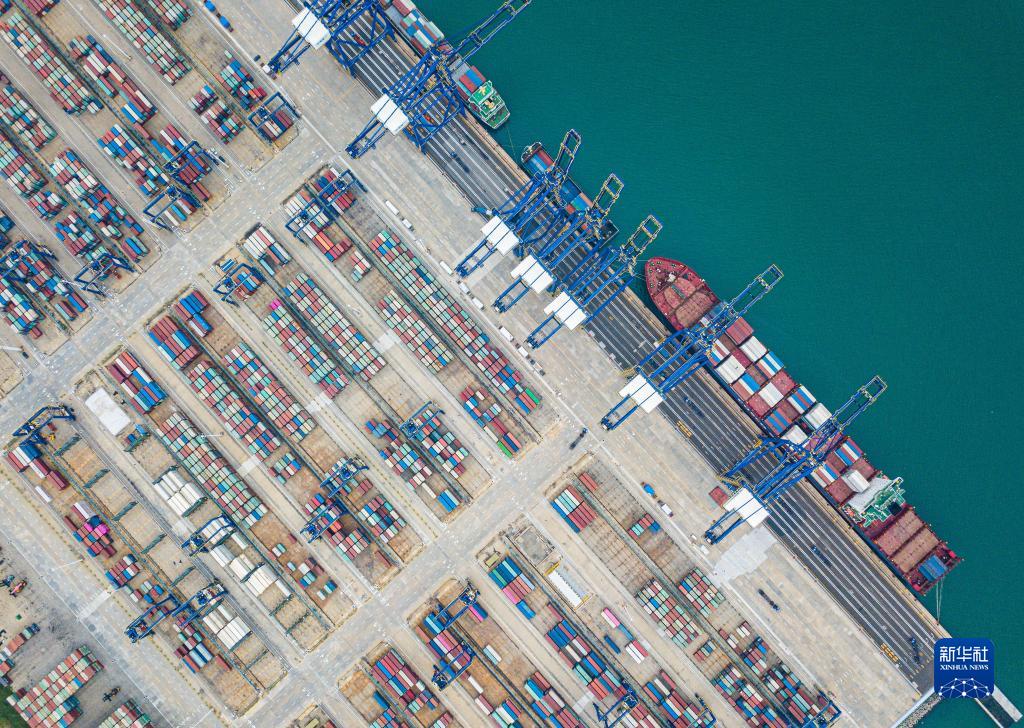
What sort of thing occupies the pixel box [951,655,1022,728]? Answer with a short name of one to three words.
pier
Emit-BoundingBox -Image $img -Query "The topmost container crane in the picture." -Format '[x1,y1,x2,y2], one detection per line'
[268,0,396,73]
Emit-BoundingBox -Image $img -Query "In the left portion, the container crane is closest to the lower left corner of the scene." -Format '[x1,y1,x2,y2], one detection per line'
[115,591,185,652]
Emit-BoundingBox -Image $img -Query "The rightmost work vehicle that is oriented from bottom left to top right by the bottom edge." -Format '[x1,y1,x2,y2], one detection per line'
[93,686,116,708]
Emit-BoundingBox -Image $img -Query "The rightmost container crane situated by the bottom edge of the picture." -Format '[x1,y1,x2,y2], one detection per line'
[784,685,840,728]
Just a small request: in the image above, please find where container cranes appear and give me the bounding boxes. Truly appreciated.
[592,676,639,728]
[435,576,483,629]
[597,261,785,433]
[163,140,219,189]
[14,400,79,444]
[298,497,350,545]
[176,575,237,630]
[215,263,268,307]
[74,251,136,298]
[144,183,200,231]
[176,511,239,565]
[398,399,445,441]
[345,0,529,155]
[287,201,337,248]
[664,693,715,728]
[320,452,372,498]
[784,685,840,728]
[455,130,585,276]
[0,238,59,282]
[490,174,625,314]
[248,92,299,143]
[701,374,890,548]
[268,0,396,73]
[524,216,664,351]
[115,591,185,652]
[426,636,475,692]
[317,169,367,218]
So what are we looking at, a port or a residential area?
port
